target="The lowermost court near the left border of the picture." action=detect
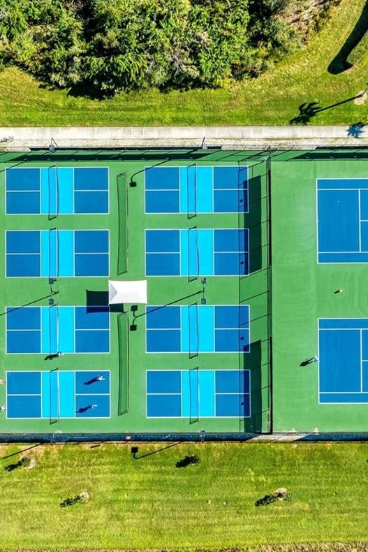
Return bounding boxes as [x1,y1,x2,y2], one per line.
[7,372,110,419]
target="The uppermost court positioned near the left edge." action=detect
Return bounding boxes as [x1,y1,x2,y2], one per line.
[5,167,109,214]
